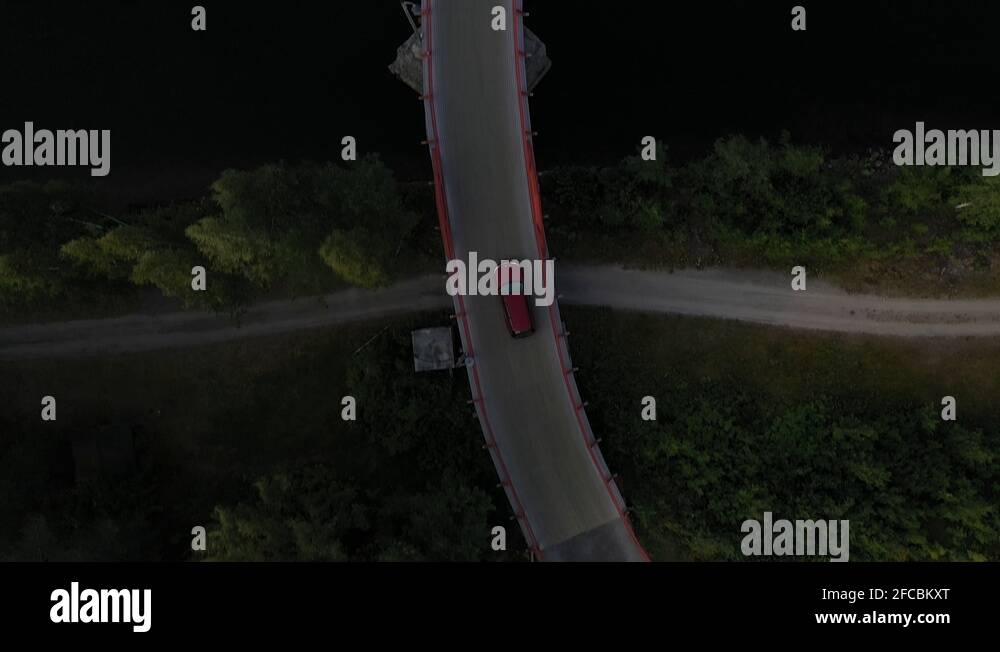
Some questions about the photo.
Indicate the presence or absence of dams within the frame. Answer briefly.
No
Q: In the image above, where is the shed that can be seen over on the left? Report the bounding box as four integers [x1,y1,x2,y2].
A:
[77,419,151,480]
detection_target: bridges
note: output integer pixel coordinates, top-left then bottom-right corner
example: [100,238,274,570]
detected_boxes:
[390,0,699,652]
